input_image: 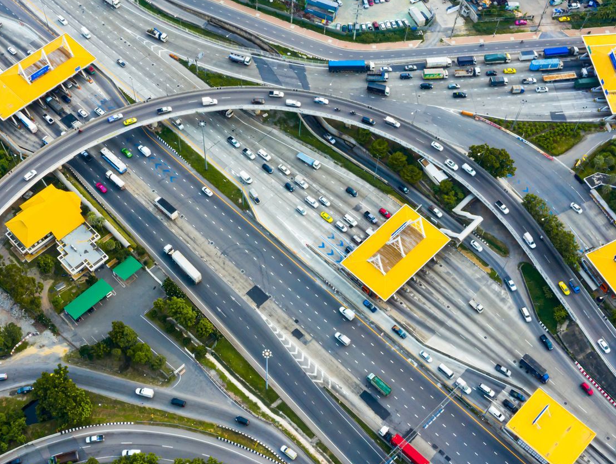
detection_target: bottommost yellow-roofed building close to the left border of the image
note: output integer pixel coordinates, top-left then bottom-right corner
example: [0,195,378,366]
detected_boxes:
[4,184,109,281]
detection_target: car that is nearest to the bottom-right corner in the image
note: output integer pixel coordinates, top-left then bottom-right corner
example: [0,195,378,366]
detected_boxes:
[579,380,594,396]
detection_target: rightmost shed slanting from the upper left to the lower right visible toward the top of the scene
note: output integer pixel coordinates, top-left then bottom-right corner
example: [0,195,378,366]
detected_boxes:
[417,158,447,190]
